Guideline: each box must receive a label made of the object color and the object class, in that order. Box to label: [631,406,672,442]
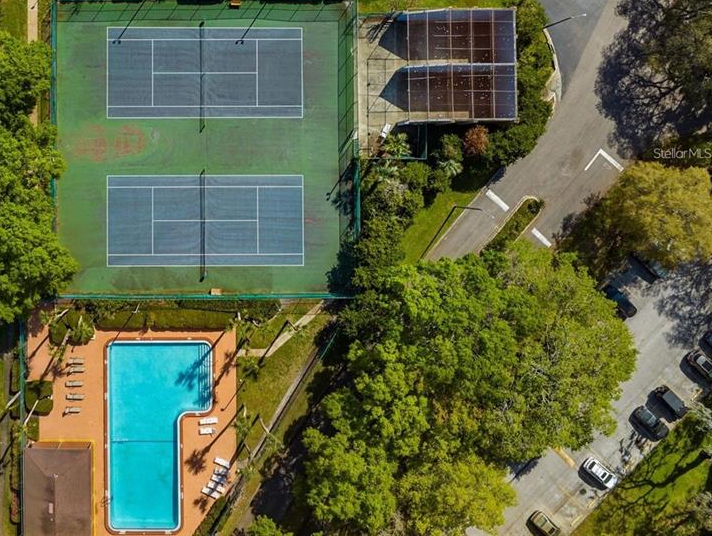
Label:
black car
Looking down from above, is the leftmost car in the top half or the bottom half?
bottom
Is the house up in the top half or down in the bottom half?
bottom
